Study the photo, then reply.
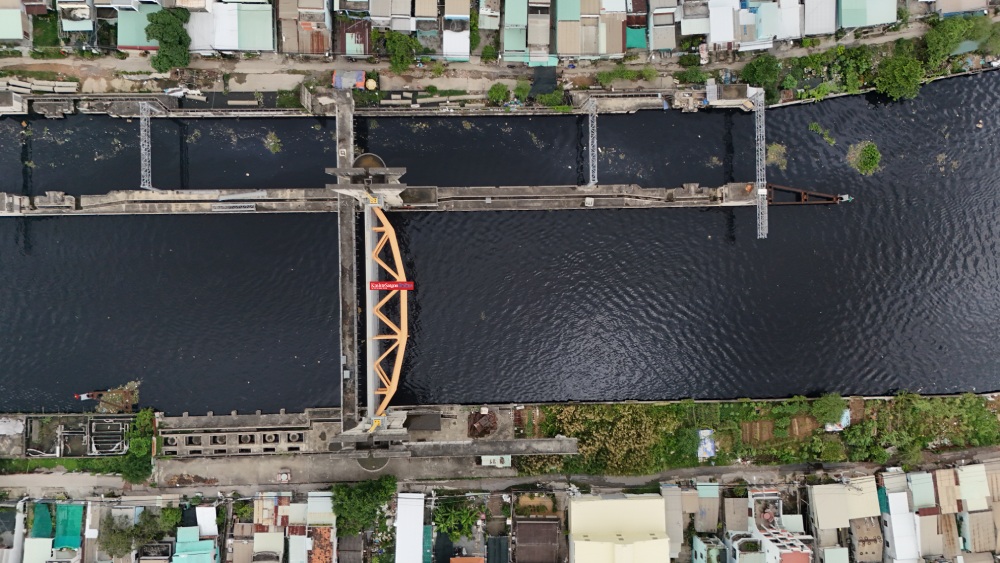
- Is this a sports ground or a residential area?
residential area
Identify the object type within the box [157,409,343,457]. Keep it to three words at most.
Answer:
building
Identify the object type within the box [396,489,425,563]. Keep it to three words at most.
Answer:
house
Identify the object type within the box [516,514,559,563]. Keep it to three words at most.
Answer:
house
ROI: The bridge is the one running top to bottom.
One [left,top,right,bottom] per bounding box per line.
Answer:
[338,99,361,429]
